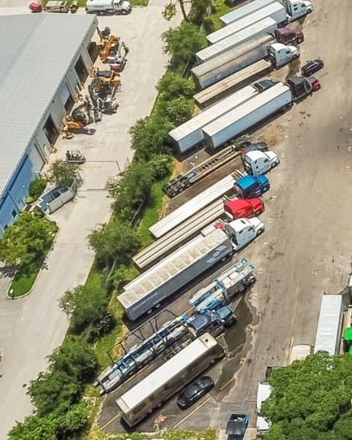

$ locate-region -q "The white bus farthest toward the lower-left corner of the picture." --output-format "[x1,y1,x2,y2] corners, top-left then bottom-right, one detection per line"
[118,334,222,425]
